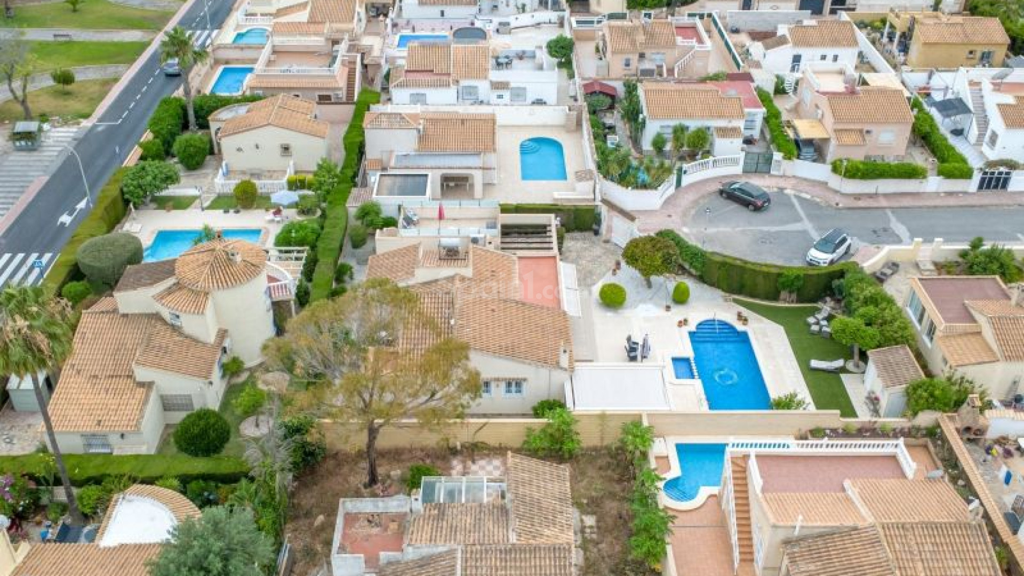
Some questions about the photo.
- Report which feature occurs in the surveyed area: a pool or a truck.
pool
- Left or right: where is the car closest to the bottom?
right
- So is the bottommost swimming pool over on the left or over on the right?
right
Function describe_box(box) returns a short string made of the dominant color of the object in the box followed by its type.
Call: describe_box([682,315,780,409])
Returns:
blue swimming pool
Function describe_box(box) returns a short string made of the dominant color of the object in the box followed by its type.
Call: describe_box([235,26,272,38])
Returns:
blue swimming pool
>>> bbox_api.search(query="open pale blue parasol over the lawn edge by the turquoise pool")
[265,187,298,215]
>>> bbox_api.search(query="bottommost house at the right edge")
[720,435,1004,576]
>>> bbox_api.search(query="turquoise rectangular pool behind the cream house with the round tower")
[145,228,263,258]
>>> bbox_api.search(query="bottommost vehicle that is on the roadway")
[808,226,855,264]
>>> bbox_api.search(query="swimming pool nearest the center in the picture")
[520,136,568,179]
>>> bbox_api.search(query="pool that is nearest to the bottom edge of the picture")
[651,430,742,535]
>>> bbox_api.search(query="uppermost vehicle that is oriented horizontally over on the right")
[719,181,775,210]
